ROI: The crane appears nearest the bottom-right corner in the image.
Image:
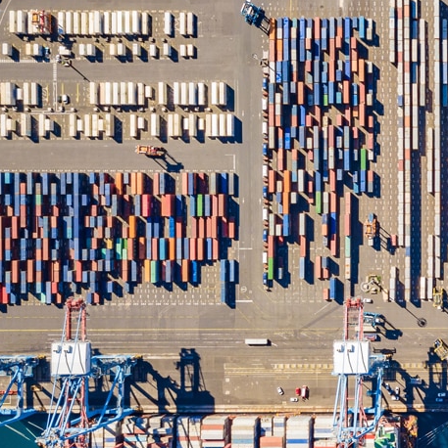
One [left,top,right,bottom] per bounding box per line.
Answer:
[331,298,389,448]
